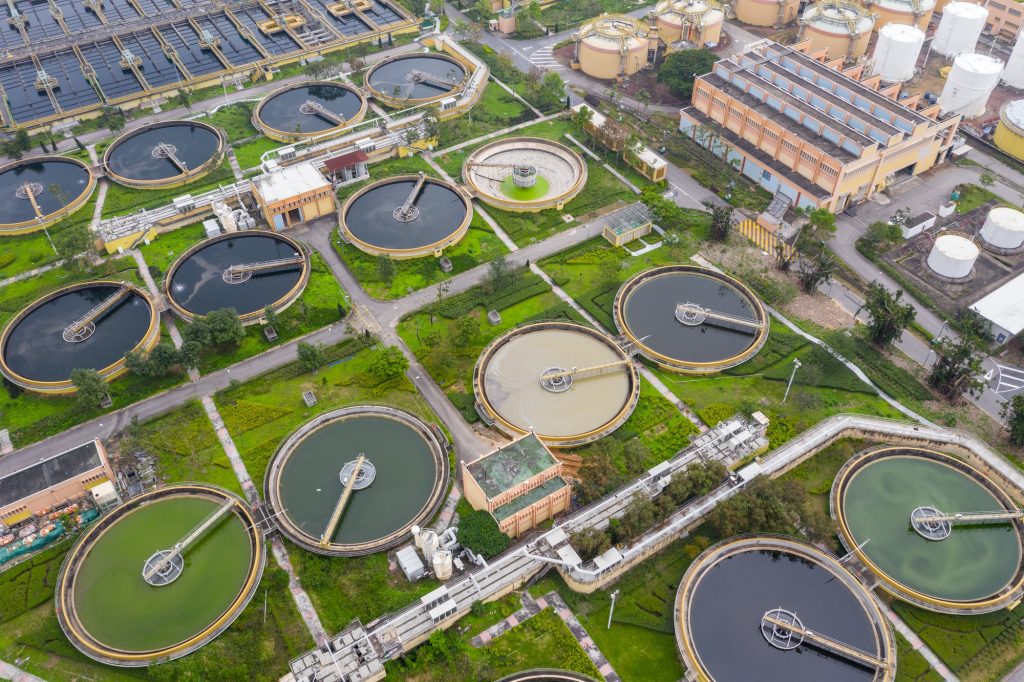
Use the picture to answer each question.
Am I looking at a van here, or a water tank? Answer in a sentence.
Looking from above, you can make out a water tank.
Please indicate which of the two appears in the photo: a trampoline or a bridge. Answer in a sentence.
I can see a bridge in this picture.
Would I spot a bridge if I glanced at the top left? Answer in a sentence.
Yes, the scene does show a bridge at the top left.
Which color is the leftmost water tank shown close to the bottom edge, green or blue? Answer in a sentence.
The color of the leftmost water tank shown close to the bottom edge is green.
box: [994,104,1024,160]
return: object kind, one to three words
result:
storage tank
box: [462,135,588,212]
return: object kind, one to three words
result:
water tank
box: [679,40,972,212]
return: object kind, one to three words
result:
building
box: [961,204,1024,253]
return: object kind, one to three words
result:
storage tank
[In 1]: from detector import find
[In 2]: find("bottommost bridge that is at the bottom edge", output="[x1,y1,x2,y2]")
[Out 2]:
[766,609,896,677]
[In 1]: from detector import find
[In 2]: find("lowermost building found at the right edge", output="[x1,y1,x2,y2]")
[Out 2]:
[968,274,1024,355]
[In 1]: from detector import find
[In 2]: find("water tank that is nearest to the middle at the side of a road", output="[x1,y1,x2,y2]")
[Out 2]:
[474,319,640,448]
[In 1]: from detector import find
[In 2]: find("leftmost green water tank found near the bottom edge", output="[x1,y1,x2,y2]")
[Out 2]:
[56,482,267,667]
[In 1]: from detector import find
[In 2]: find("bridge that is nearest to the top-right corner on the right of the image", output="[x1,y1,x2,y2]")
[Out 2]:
[679,301,769,335]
